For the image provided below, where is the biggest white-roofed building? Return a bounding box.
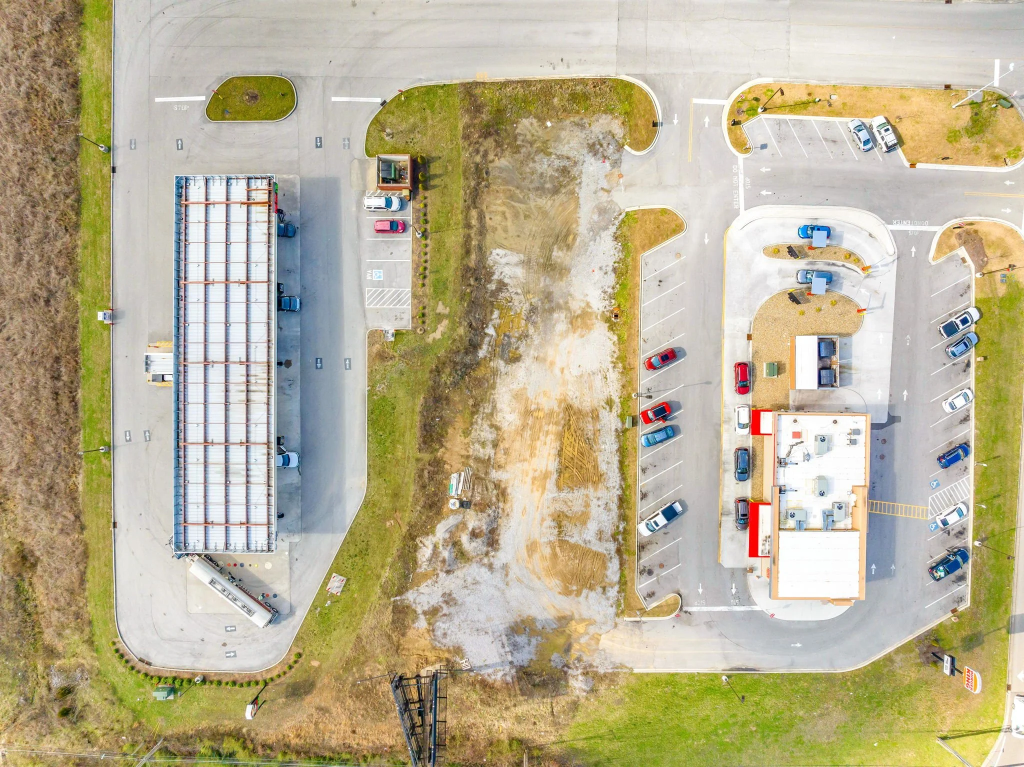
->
[748,410,871,607]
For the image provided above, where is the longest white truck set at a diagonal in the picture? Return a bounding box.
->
[170,544,278,628]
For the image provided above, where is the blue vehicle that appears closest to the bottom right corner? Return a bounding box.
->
[927,548,971,581]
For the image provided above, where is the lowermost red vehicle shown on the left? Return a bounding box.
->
[374,218,405,235]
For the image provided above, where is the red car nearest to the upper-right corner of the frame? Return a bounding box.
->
[733,361,752,395]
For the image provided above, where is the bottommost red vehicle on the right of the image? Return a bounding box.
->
[639,401,672,425]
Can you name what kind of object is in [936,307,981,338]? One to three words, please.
truck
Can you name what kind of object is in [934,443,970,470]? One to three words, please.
car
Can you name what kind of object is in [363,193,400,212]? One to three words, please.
car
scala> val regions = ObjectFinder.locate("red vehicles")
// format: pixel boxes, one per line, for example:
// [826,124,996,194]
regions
[639,401,672,425]
[374,218,405,235]
[643,347,678,372]
[733,361,752,395]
